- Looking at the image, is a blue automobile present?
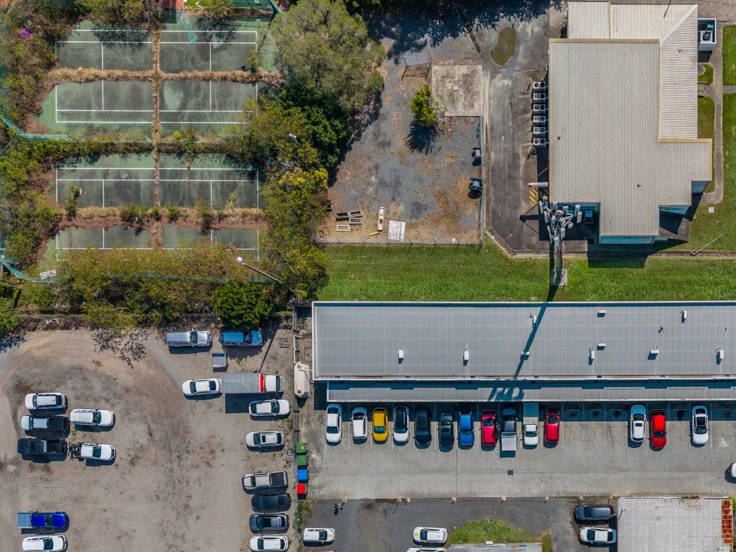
Yes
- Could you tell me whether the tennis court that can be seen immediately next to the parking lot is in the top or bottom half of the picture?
top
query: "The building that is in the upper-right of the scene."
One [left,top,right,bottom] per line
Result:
[546,0,714,242]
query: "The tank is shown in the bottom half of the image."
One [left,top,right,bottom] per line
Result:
[296,364,314,397]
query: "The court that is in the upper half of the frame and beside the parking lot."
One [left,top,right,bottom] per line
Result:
[12,0,279,280]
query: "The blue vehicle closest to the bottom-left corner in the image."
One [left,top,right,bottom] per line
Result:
[16,511,68,531]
